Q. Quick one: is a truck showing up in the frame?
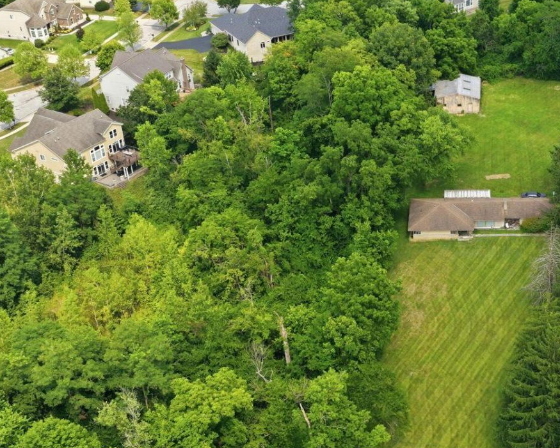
No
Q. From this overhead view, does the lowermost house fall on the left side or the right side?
right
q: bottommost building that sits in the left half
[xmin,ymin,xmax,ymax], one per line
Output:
[0,107,141,189]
